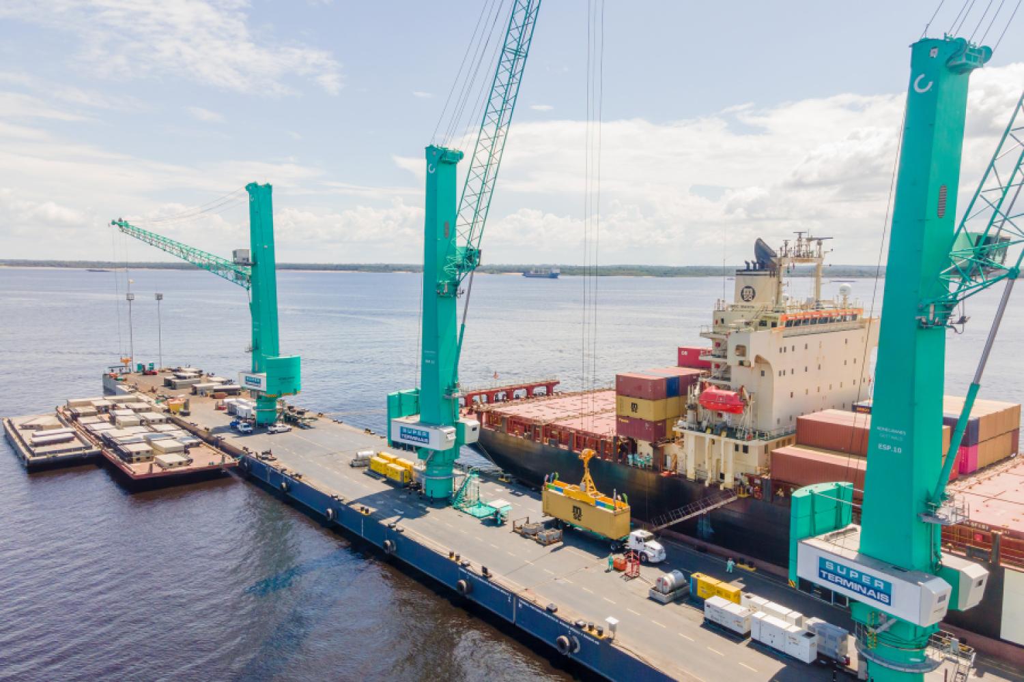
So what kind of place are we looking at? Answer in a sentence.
What you see here is a port.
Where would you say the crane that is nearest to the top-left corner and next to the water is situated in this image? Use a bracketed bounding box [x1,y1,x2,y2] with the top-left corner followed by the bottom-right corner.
[107,183,310,423]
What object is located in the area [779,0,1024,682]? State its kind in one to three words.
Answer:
crane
